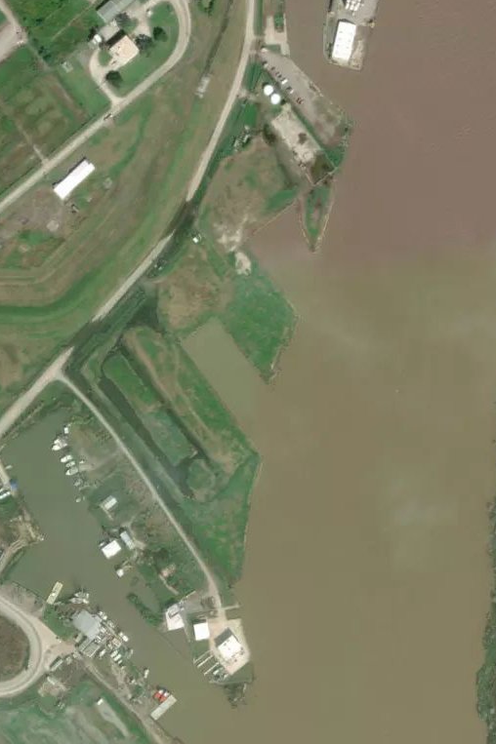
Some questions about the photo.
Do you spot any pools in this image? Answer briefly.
No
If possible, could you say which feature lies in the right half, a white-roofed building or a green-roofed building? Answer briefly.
white-roofed building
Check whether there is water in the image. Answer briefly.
Yes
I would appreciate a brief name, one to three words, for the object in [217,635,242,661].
building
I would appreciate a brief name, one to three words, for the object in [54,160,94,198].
shed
